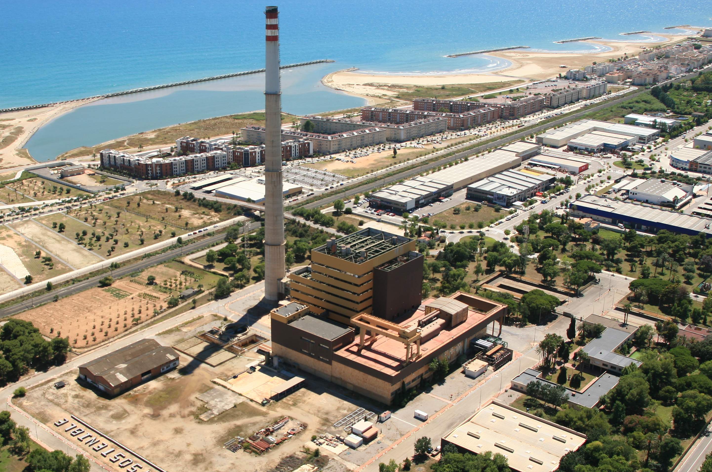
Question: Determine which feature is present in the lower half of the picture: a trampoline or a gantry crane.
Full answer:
Looking in the lower half of the picture, you will find a gantry crane.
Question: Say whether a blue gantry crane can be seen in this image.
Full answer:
No, no blue gantry crane can be seen from above.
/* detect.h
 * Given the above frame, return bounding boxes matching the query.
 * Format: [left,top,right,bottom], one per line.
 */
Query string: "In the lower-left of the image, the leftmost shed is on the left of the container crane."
[78,338,180,396]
